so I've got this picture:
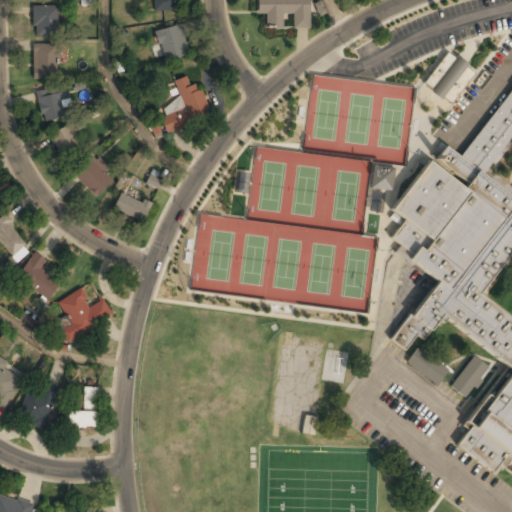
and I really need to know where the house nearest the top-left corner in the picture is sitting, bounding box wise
[34,5,58,36]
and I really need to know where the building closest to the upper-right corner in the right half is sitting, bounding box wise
[424,52,476,104]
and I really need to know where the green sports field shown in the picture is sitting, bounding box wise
[258,446,378,512]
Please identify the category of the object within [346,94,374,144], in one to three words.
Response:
tennis court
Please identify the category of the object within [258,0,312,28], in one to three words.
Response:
house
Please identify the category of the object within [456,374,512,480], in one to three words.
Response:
building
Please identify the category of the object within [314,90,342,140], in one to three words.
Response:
tennis court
